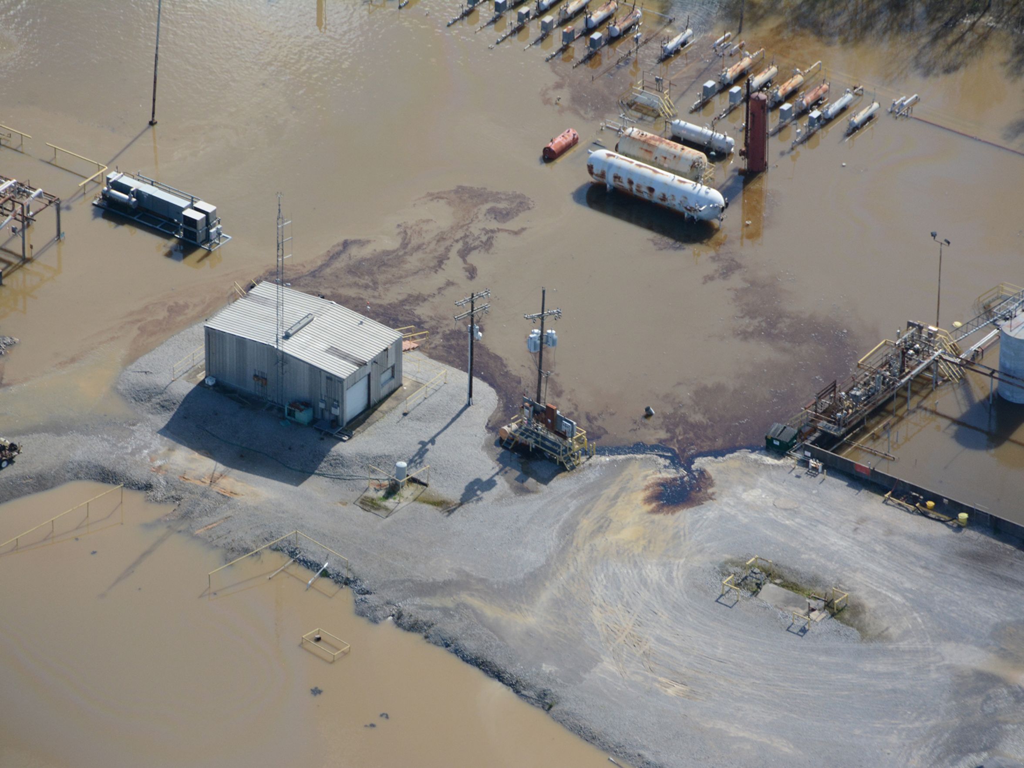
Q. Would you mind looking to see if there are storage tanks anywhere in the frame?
Yes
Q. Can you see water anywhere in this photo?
Yes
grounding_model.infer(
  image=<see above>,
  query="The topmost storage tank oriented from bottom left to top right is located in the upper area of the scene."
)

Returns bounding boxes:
[543,128,579,159]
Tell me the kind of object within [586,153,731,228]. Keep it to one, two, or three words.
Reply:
storage tank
